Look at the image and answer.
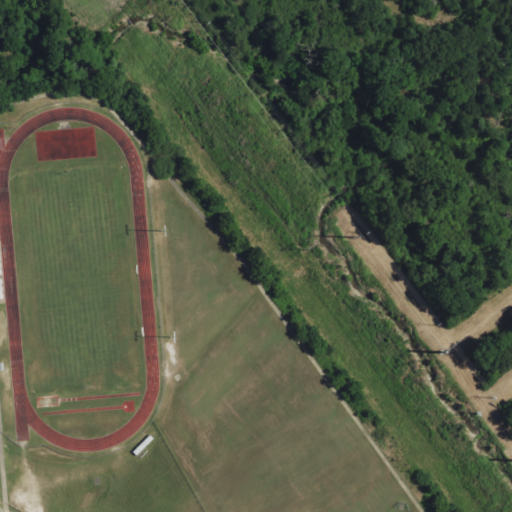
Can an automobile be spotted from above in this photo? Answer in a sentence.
No, there's no automobile here.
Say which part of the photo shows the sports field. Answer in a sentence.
The sports field is located in the left region of the scene.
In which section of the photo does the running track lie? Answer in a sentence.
The running track is in the left part of the image.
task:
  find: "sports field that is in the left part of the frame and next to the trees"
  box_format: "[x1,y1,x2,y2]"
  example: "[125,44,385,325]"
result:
[10,120,146,438]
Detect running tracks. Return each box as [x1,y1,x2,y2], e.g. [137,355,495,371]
[0,107,160,451]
